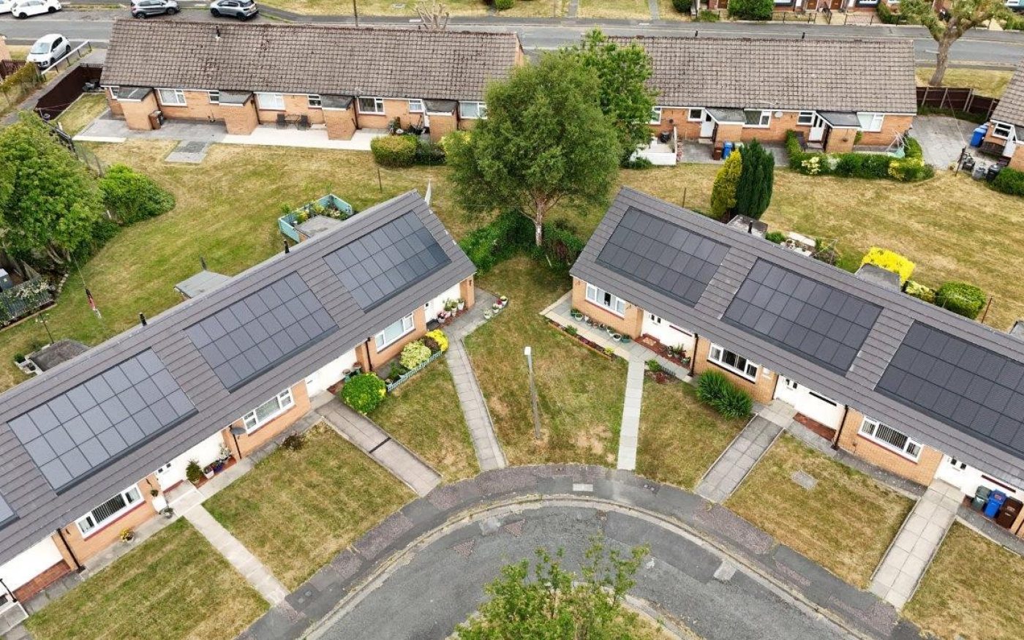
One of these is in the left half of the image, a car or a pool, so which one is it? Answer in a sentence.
The feature located in the left half of the image is a car.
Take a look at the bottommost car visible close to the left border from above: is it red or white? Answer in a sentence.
The color of the bottommost car visible close to the left border is white.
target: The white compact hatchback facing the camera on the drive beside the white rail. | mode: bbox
[24,30,70,65]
